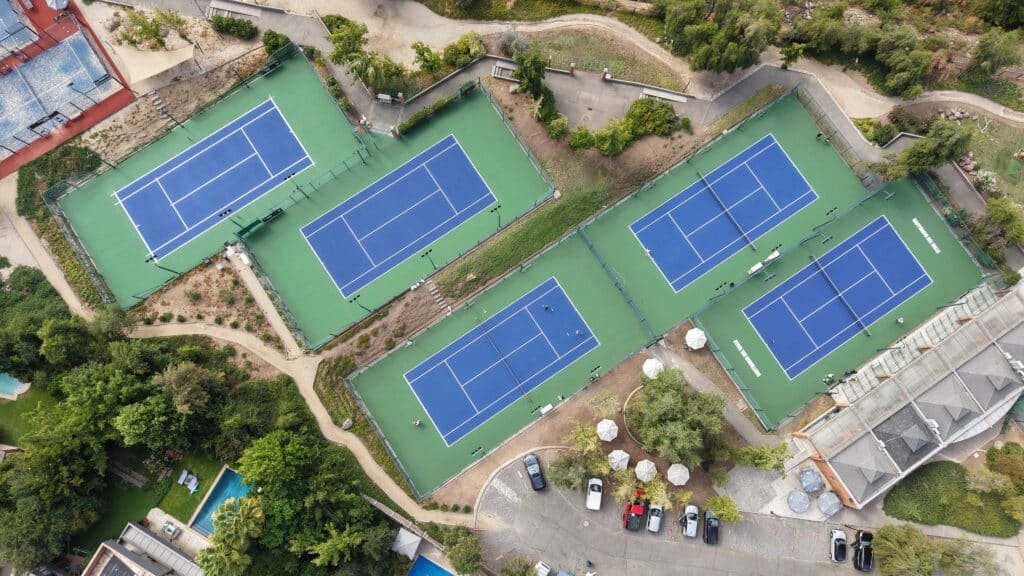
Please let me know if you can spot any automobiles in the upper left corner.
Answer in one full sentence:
No, no automobile appears in the upper left corner.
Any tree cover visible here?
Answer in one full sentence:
Yes, there is tree cover in the image.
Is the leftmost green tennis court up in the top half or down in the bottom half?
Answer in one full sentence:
The leftmost green tennis court sits in the top half of the picture.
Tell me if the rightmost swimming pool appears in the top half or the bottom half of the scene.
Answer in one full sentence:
It is in the bottom half that the rightmost swimming pool appears.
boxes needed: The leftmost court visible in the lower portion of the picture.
[349,231,657,500]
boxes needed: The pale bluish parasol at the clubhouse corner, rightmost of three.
[816,494,839,516]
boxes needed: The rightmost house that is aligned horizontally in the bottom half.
[81,541,168,576]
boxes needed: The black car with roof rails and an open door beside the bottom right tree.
[849,530,874,571]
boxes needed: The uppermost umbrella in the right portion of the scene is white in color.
[685,328,707,350]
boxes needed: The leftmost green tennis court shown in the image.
[55,49,367,310]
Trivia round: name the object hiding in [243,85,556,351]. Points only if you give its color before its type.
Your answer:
green tennis court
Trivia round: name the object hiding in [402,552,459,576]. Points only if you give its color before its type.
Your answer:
blue swimming pool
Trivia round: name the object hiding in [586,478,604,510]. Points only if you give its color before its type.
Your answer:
white car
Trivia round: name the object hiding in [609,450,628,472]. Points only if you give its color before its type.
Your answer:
white umbrella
